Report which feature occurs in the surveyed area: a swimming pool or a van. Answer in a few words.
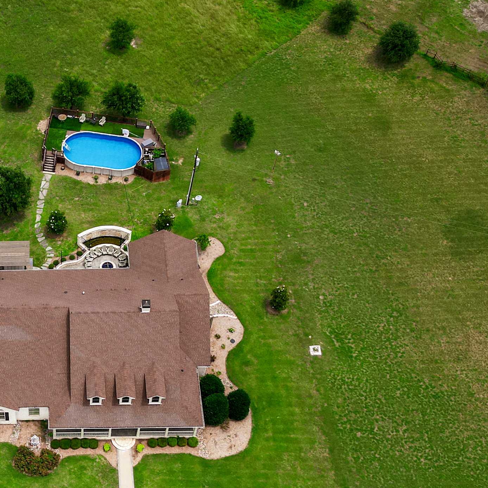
swimming pool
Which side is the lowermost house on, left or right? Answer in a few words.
left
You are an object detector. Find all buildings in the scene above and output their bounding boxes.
[0,229,212,451]
[155,159,169,174]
